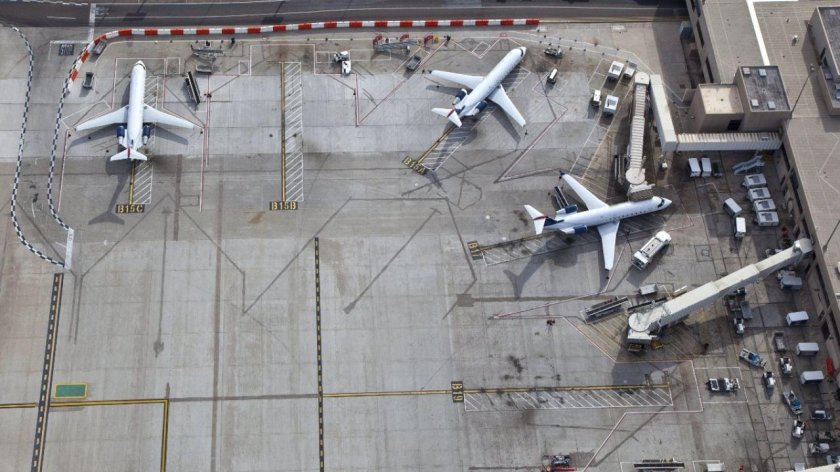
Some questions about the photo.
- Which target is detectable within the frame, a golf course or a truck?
truck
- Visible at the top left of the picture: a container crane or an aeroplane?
aeroplane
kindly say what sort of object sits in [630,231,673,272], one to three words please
truck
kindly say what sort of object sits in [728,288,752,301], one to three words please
vehicle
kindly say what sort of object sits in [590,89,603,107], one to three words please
vehicle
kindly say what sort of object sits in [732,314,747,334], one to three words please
work vehicle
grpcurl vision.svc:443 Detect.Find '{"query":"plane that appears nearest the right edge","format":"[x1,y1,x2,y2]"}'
[522,168,672,271]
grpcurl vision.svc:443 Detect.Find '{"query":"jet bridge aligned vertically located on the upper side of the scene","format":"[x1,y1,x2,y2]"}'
[611,69,651,202]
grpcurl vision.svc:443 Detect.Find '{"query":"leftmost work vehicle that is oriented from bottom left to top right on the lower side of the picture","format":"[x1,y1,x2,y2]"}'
[583,293,632,328]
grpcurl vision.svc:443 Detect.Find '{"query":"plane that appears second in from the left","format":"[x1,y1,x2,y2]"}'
[427,46,527,129]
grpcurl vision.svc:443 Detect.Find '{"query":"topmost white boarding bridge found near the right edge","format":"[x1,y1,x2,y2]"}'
[627,231,819,355]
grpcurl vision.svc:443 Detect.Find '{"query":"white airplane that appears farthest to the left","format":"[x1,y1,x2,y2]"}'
[73,62,195,167]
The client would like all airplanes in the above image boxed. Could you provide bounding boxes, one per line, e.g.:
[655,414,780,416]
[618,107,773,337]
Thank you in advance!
[73,62,195,167]
[522,168,672,271]
[427,46,527,129]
